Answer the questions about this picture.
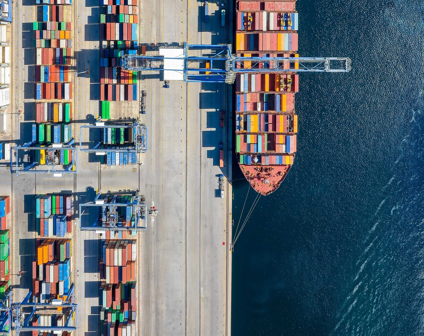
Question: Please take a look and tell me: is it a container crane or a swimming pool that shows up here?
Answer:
container crane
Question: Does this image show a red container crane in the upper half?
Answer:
No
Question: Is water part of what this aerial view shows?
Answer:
Yes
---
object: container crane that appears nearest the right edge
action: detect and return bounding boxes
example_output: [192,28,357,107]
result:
[122,39,355,89]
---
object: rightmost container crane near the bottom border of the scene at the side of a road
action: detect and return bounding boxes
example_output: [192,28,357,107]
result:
[9,299,77,335]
